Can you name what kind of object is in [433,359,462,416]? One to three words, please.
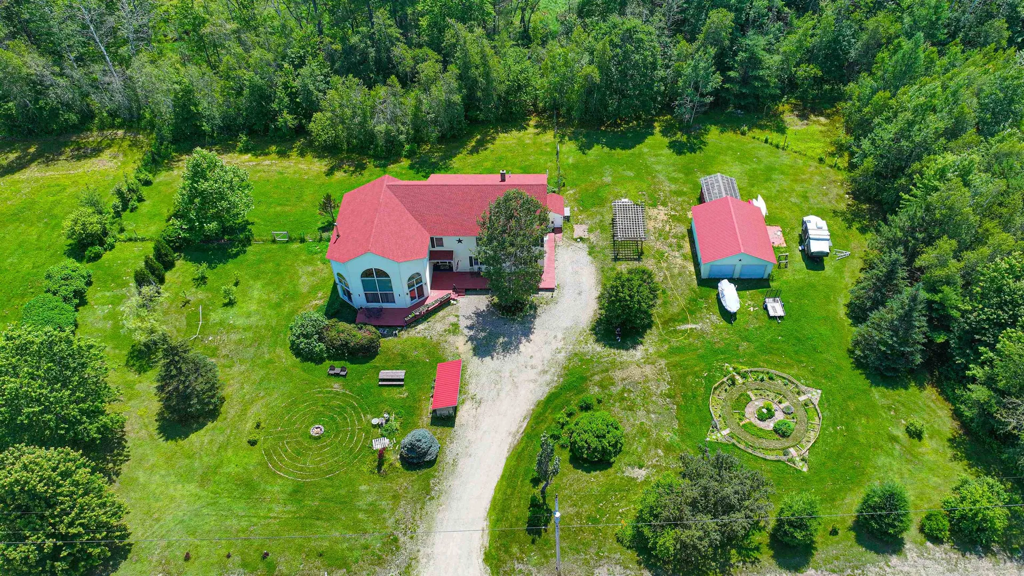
shed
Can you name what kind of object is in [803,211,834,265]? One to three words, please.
vehicle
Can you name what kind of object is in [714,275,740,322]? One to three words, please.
boat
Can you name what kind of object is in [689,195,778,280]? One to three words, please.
building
